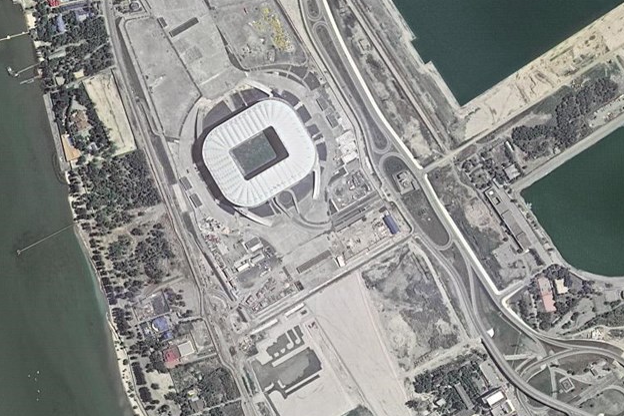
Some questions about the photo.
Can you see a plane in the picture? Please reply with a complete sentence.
No, the photo shows no plane.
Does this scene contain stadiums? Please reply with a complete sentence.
Yes, there is a stadium in the image.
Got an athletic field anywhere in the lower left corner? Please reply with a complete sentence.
No, there's no athletic field to be seen in the lower left corner.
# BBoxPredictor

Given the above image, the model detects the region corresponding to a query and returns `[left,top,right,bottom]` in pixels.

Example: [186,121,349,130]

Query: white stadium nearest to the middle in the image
[203,80,324,227]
